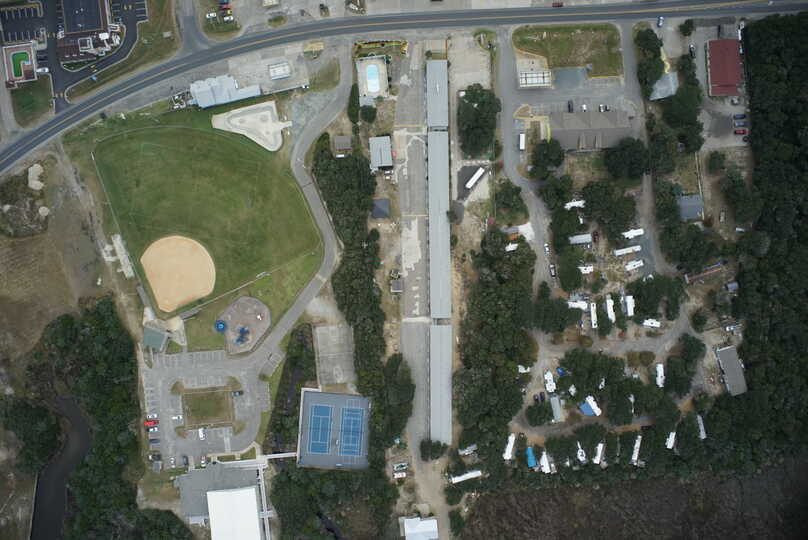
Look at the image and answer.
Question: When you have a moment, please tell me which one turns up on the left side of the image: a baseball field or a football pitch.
baseball field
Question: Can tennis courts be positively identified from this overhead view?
Yes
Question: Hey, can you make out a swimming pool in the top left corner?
Yes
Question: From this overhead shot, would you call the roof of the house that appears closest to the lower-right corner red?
No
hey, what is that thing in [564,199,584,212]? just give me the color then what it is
white vehicle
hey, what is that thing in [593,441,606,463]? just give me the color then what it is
white vehicle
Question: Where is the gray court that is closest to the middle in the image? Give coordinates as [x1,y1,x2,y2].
[316,327,357,384]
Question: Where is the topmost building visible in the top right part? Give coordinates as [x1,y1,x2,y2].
[708,39,741,86]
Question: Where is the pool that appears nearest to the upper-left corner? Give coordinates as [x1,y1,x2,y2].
[4,43,36,81]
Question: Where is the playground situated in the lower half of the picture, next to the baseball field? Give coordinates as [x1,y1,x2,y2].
[219,296,271,354]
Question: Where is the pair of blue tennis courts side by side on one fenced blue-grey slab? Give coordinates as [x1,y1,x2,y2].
[298,391,370,470]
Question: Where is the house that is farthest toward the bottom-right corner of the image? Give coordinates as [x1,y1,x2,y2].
[716,344,748,396]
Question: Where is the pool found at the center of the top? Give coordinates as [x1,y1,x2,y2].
[357,57,389,96]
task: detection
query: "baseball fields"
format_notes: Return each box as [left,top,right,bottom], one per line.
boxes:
[94,127,320,319]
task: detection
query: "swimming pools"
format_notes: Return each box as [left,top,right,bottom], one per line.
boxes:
[357,57,389,96]
[4,43,36,81]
